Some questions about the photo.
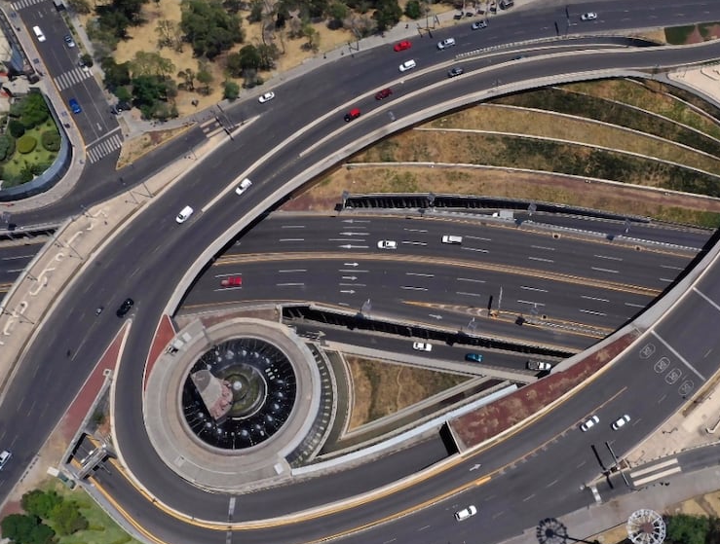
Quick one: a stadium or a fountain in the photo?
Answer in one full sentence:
I can see a fountain in this picture.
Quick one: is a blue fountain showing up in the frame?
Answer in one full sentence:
No, this view has no blue fountain in it.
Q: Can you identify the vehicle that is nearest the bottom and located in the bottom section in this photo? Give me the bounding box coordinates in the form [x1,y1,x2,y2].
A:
[454,506,477,521]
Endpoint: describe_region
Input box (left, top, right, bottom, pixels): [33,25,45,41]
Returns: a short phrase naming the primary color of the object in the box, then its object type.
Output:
white vehicle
